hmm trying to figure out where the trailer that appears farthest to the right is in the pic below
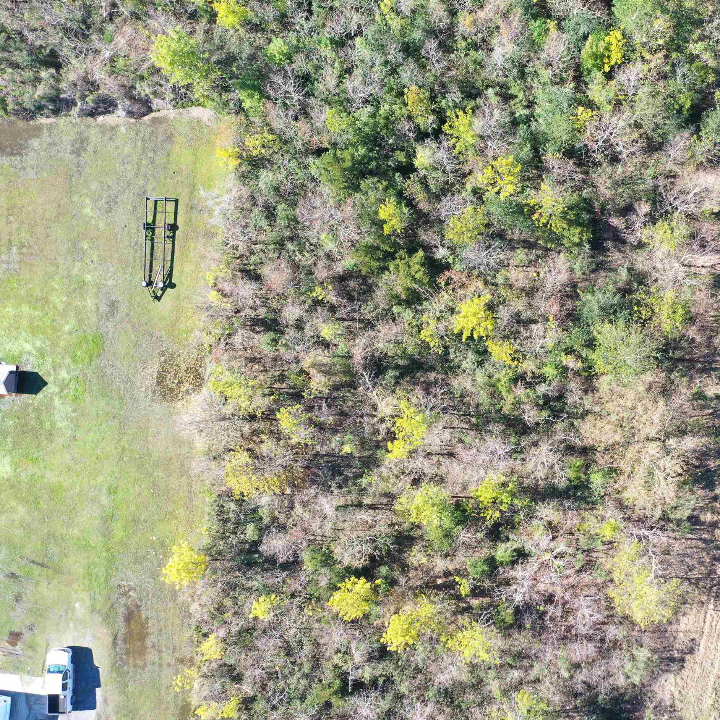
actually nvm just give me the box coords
[141,195,173,304]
